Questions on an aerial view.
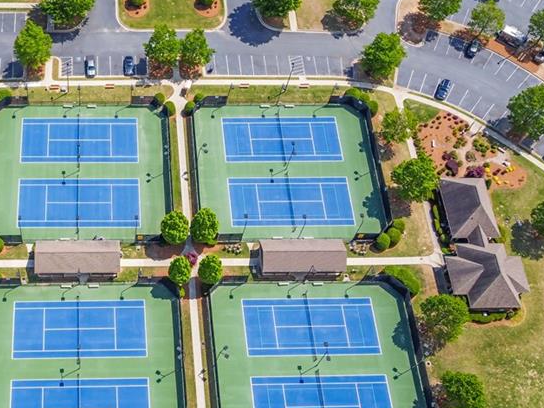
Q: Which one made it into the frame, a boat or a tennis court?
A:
tennis court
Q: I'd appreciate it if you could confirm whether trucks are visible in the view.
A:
Yes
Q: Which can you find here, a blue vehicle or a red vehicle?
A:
blue vehicle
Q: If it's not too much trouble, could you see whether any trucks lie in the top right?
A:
Yes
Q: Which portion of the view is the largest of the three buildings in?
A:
right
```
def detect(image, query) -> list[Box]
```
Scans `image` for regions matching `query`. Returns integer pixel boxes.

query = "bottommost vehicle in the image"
[436,78,452,98]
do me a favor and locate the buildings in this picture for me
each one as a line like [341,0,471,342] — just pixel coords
[257,239,348,279]
[35,240,121,280]
[437,178,530,317]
